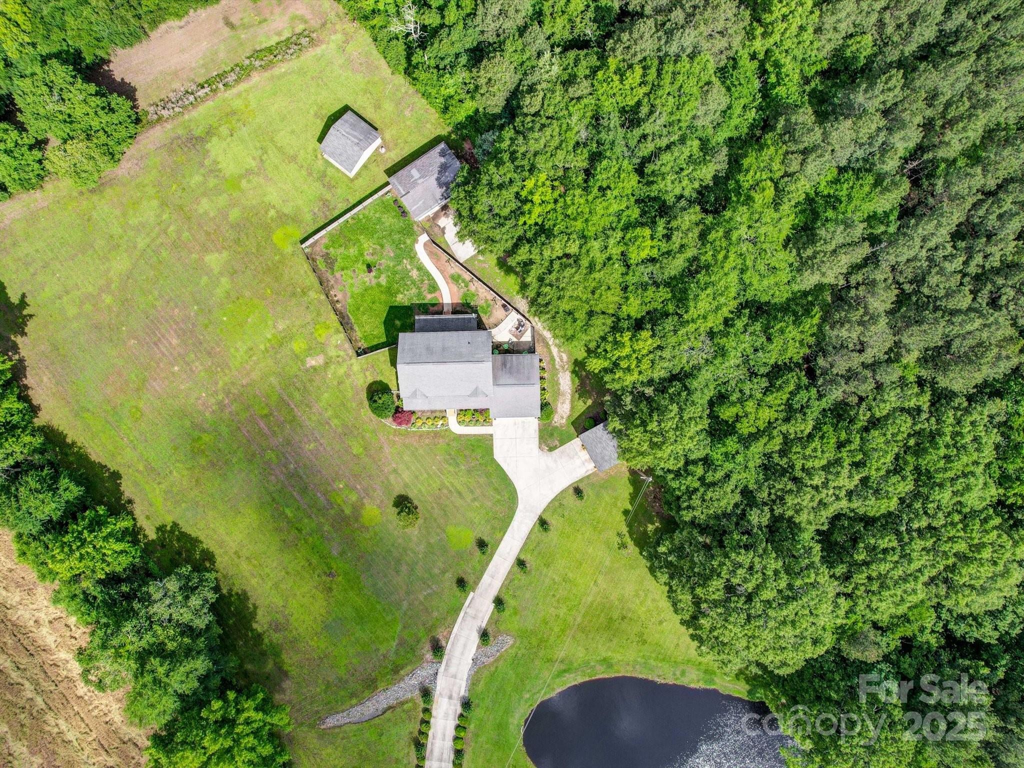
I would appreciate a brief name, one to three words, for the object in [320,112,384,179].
shed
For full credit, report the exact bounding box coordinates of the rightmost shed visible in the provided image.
[579,413,636,474]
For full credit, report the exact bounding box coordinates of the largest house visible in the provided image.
[396,312,541,419]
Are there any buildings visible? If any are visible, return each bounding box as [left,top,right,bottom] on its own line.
[390,144,467,222]
[320,112,384,179]
[396,312,541,419]
[579,413,636,474]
